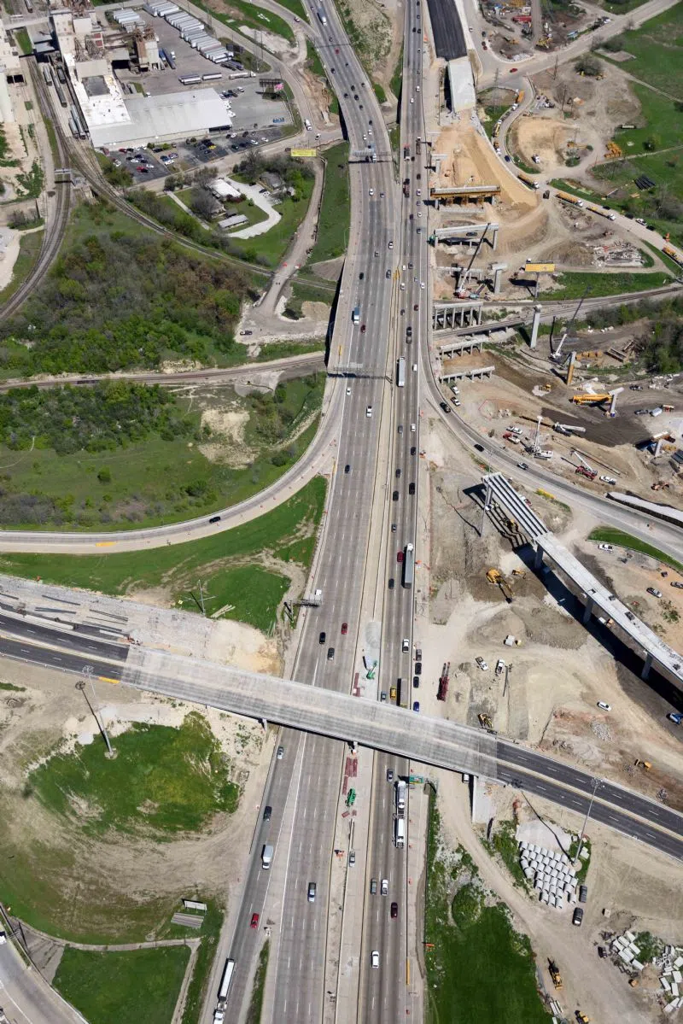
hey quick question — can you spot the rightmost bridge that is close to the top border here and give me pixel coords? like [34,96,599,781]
[427,0,476,119]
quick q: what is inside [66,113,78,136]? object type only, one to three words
rail car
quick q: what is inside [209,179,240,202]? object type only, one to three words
house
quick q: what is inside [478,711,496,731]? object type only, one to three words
work vehicle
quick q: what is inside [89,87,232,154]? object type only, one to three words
building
